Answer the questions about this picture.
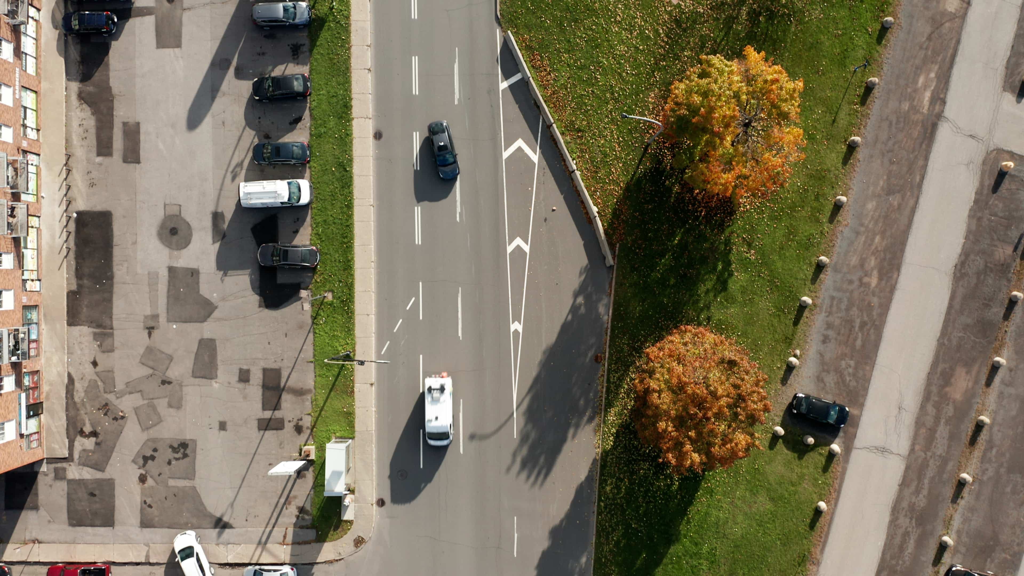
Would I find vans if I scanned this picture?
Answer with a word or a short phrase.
Yes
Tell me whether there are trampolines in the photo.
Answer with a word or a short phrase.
No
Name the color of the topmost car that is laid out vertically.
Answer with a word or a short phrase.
black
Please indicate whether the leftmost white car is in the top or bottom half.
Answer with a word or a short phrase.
bottom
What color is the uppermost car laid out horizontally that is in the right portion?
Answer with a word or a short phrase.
black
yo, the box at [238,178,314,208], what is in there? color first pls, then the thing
white van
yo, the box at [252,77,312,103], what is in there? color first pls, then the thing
black car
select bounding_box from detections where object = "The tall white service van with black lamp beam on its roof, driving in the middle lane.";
[425,371,456,443]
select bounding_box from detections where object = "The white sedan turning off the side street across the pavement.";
[177,530,215,576]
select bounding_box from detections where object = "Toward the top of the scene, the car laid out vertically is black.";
[429,120,460,181]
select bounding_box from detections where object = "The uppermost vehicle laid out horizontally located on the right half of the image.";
[787,391,849,424]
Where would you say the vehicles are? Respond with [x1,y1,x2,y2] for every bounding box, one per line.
[948,567,987,576]
[258,243,321,268]
[60,8,116,36]
[425,371,456,443]
[787,391,849,424]
[429,120,460,181]
[44,564,110,576]
[253,141,312,166]
[252,77,312,103]
[252,2,312,31]
[177,530,215,576]
[243,566,298,576]
[238,178,314,208]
